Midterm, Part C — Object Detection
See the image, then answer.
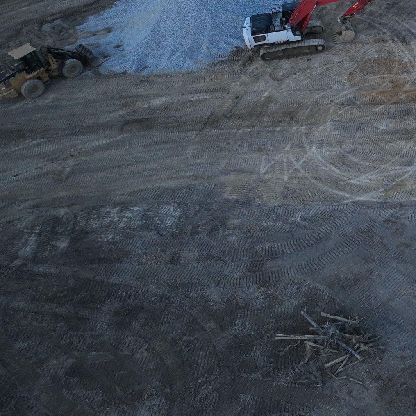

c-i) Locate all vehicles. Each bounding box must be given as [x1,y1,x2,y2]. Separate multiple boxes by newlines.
[0,39,112,106]
[245,0,376,57]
